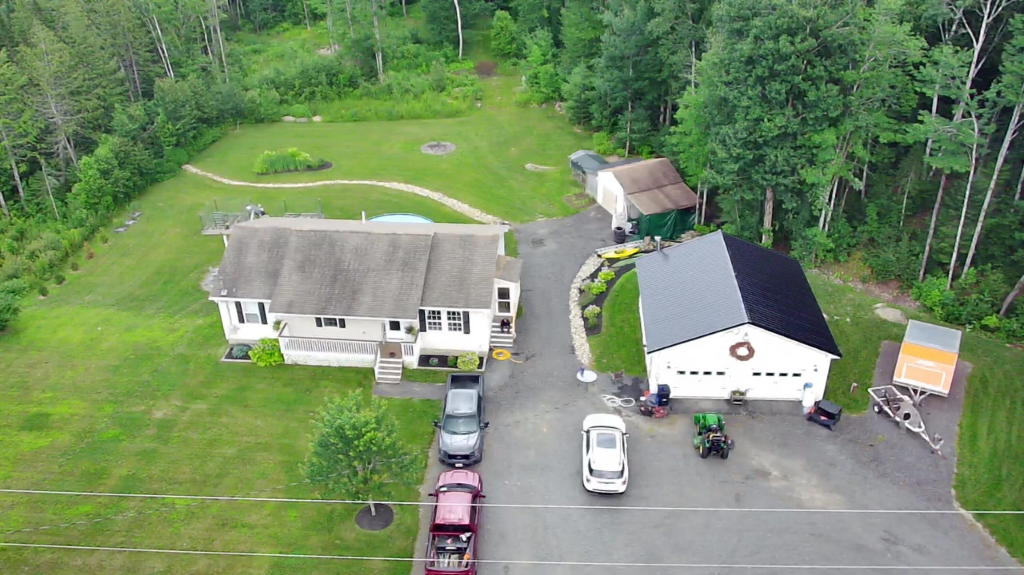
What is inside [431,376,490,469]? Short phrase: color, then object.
gray truck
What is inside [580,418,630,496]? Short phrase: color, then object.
white car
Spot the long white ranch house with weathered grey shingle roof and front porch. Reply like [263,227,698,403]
[209,213,522,369]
